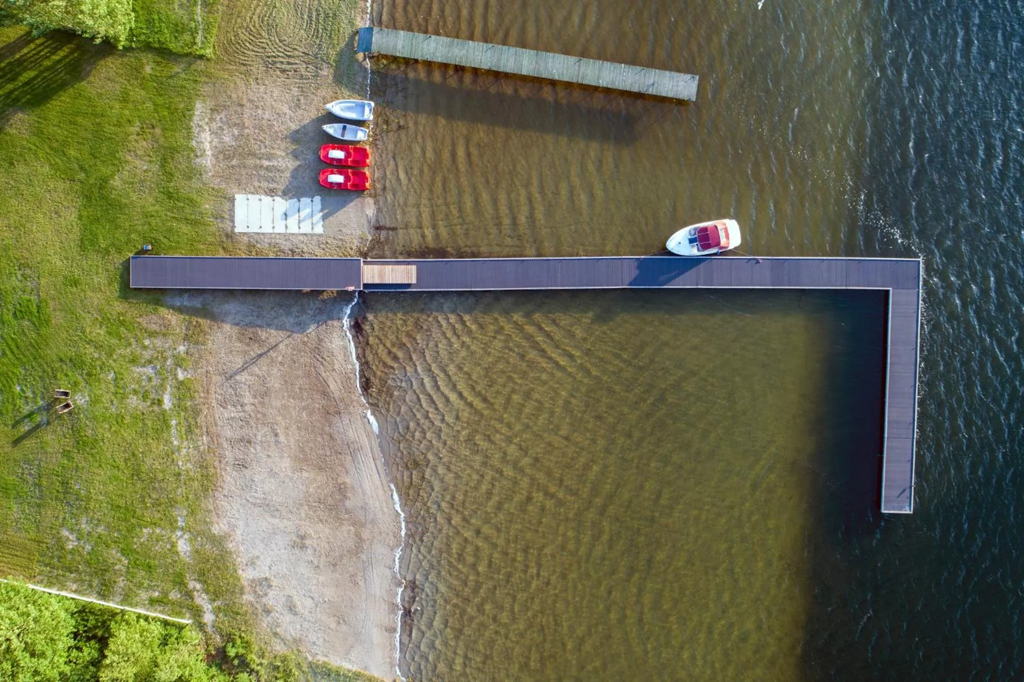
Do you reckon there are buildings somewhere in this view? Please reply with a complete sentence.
No, the photo shows no building.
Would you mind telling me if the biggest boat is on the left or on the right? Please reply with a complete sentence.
You can find the biggest boat on the right side of the picture.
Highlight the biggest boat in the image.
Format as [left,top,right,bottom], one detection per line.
[665,219,741,256]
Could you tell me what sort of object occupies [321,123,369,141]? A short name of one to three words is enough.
boat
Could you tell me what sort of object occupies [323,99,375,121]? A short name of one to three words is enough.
boat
